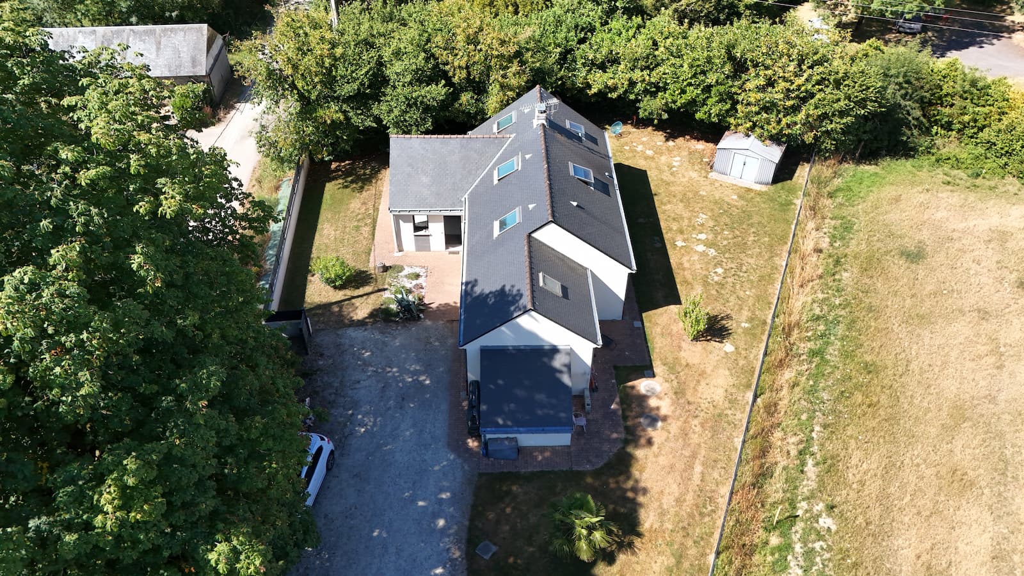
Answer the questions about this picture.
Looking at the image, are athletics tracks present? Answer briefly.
No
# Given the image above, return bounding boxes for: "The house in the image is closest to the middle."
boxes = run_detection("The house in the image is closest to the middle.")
[388,86,640,448]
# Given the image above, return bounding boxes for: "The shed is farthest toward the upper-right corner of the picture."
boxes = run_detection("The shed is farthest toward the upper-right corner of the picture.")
[709,125,785,190]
